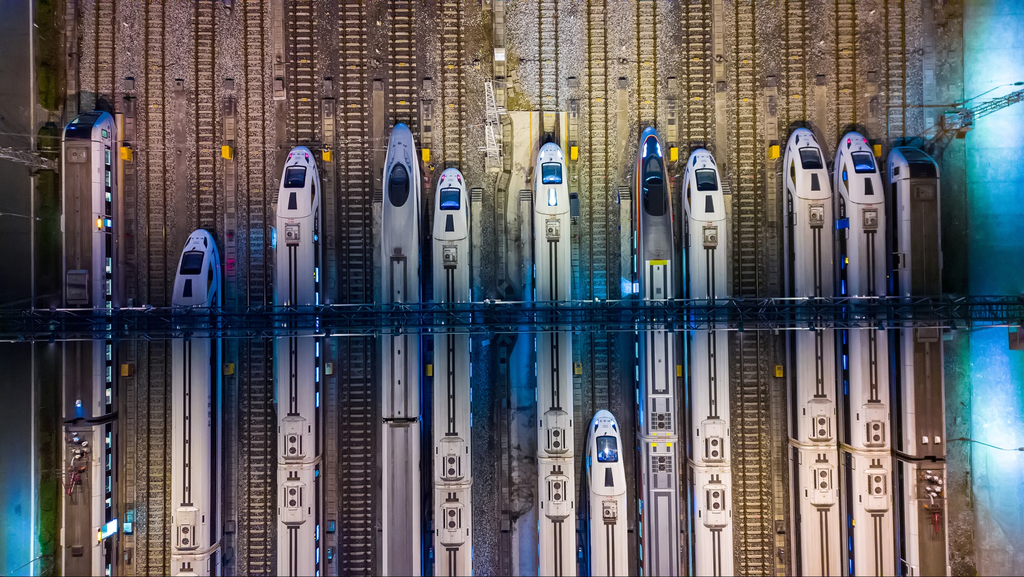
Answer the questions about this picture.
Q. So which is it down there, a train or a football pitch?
train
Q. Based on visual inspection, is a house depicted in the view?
No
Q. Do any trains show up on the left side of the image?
Yes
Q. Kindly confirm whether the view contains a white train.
Yes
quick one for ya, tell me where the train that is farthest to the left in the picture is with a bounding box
[63,112,119,577]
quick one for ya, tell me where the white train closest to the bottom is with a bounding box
[587,409,629,577]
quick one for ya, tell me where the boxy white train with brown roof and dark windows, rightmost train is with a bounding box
[885,143,947,577]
